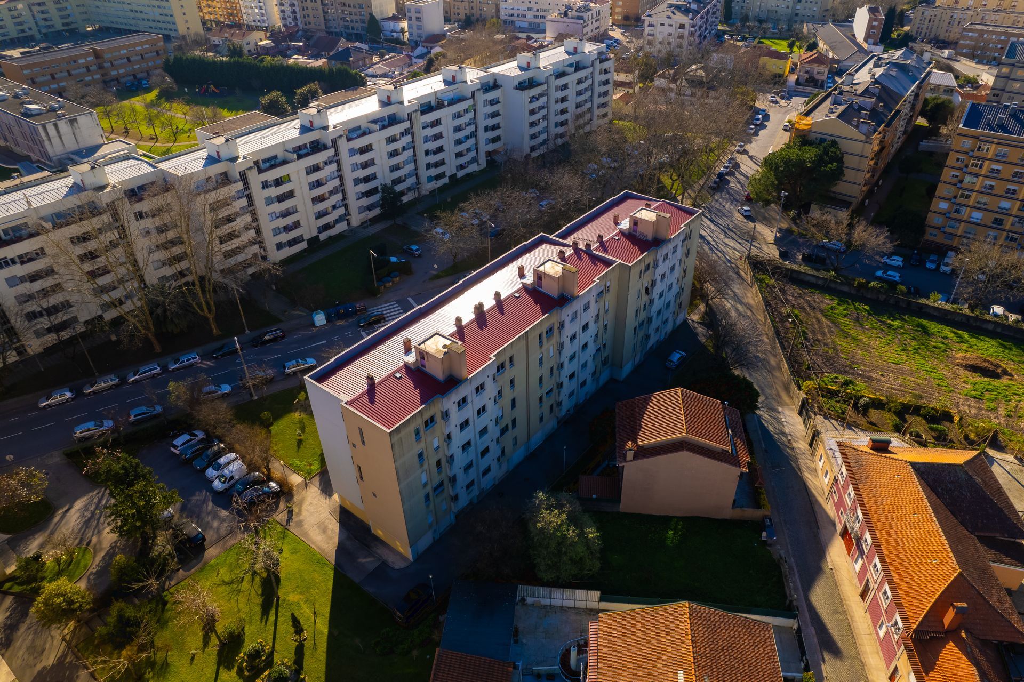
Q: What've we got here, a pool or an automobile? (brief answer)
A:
automobile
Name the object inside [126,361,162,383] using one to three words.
car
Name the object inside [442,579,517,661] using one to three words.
shed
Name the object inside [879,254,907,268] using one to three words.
car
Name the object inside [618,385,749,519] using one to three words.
house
